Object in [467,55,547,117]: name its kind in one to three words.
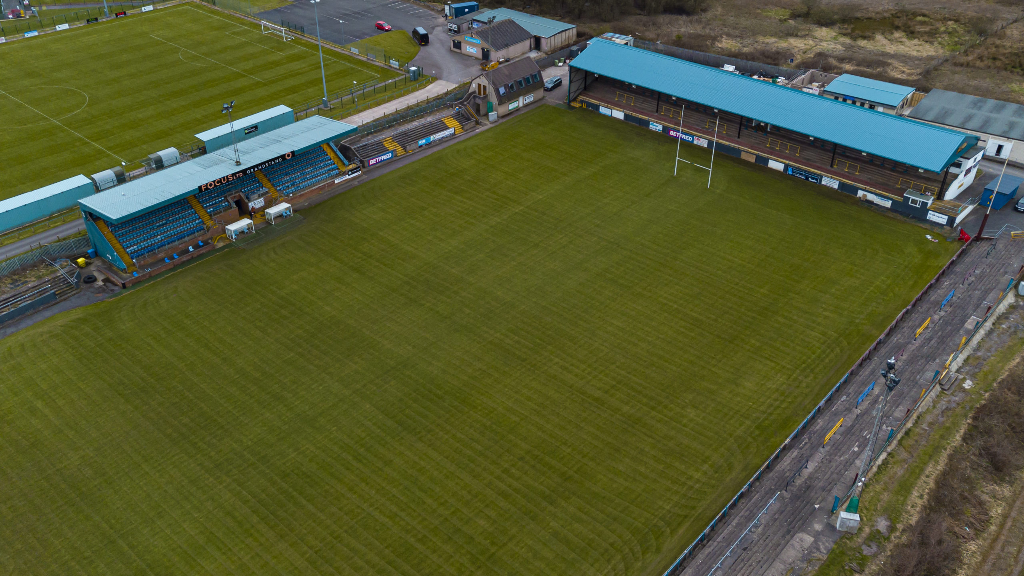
building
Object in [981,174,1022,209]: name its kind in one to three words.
shed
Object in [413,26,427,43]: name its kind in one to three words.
vehicle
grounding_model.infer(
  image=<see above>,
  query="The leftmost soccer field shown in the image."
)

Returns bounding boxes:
[0,1,405,196]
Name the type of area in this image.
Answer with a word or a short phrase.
sports ground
